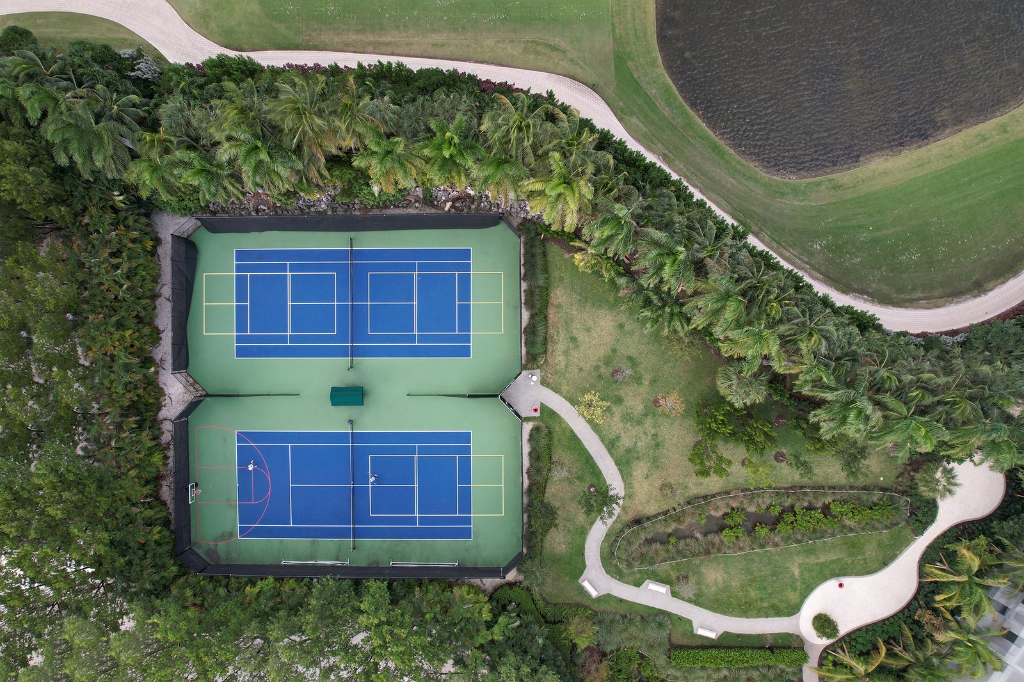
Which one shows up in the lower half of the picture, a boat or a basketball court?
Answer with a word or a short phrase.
basketball court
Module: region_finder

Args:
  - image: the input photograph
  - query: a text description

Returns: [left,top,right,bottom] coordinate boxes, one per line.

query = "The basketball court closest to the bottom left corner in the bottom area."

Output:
[196,426,272,545]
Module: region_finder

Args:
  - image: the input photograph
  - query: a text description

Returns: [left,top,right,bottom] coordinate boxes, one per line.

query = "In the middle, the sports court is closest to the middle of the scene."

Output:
[368,272,503,334]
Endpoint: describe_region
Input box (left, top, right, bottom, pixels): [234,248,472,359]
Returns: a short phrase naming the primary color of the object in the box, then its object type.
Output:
blue tennis court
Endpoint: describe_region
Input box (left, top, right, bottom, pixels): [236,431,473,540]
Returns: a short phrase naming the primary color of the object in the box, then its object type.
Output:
blue tennis court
